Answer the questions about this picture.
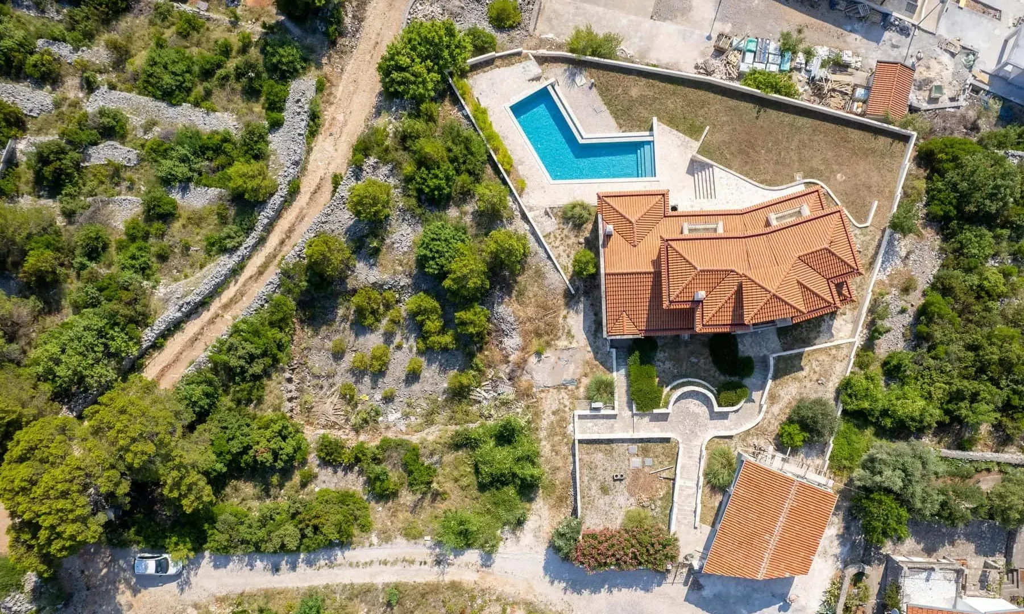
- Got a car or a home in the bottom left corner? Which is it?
car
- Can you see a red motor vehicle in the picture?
No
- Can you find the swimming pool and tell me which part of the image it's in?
top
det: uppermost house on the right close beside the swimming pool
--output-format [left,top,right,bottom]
[595,182,865,339]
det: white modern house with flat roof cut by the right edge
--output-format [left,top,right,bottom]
[969,6,1024,109]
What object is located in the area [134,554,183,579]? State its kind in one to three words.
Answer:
car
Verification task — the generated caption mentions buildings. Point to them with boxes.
[879,548,1024,614]
[969,6,1024,109]
[862,59,916,123]
[595,182,865,339]
[868,0,942,37]
[701,448,839,581]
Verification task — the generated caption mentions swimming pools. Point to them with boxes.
[503,78,659,184]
